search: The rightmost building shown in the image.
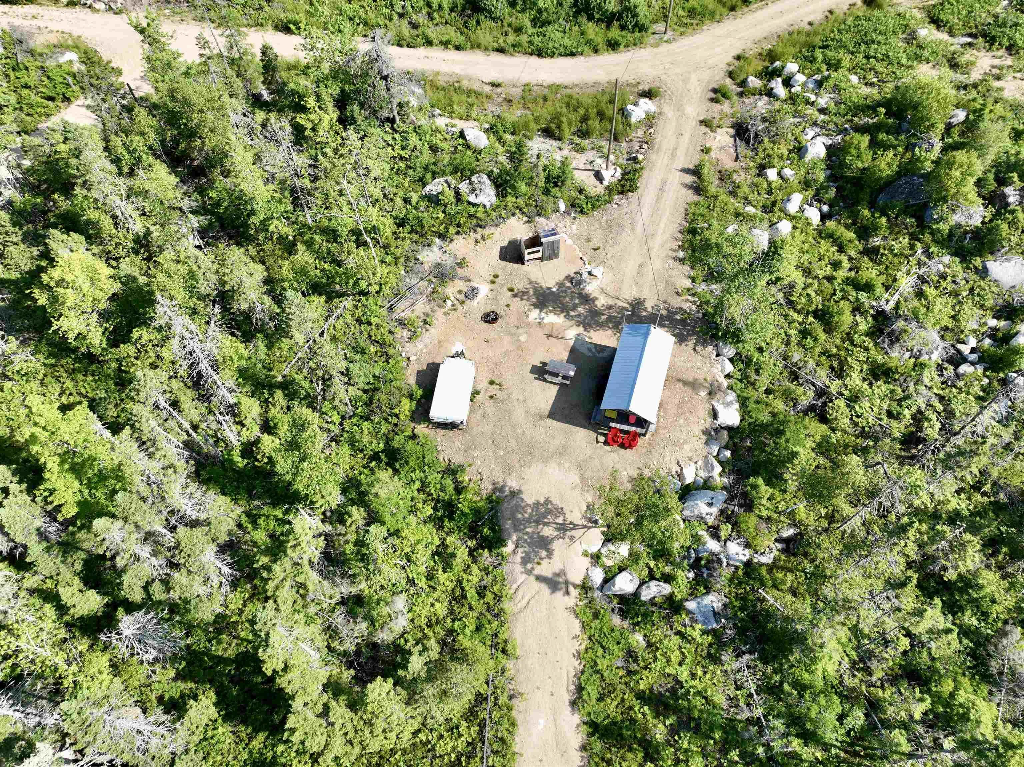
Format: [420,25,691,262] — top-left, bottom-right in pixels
[590,324,676,439]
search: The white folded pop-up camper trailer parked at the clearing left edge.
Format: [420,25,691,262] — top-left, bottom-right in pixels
[428,349,478,431]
